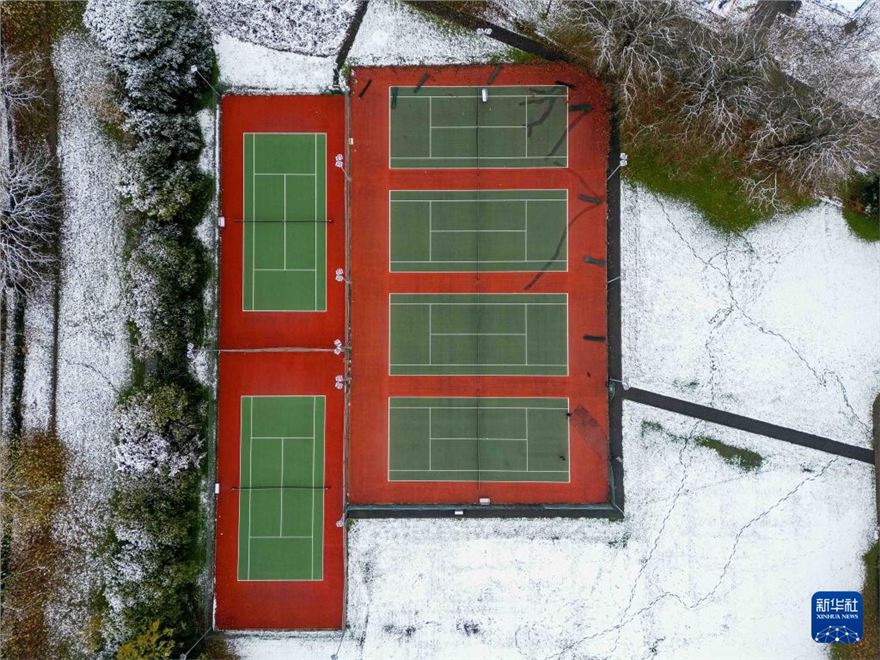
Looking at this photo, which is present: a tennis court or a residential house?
tennis court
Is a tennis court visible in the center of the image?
Yes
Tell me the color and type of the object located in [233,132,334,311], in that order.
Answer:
green tennis court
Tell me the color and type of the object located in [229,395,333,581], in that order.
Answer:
green tennis court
